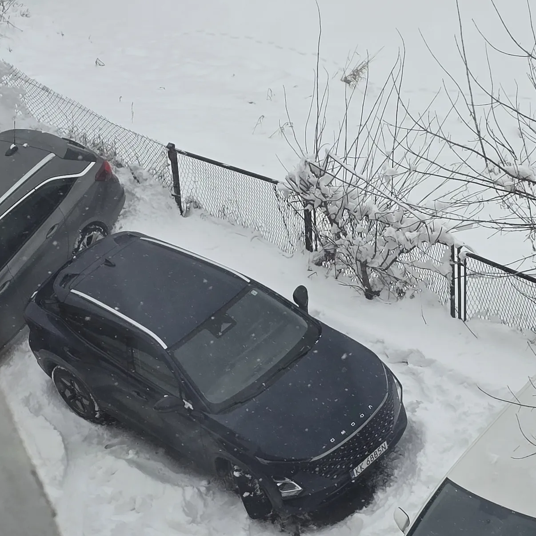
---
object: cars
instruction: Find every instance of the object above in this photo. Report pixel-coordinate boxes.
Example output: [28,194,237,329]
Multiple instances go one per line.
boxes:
[393,382,536,536]
[27,232,405,523]
[0,126,114,345]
